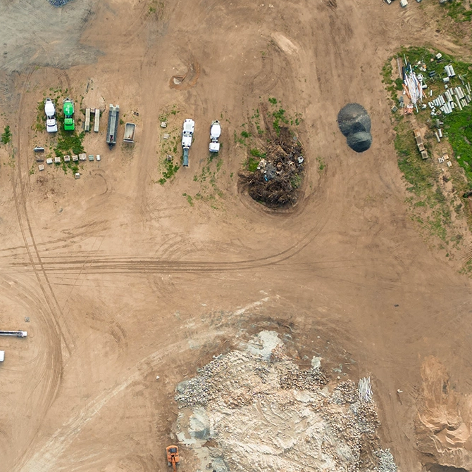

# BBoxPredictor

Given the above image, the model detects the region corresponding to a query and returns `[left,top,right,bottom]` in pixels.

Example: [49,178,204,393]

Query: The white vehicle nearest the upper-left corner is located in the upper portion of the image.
[44,94,57,133]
